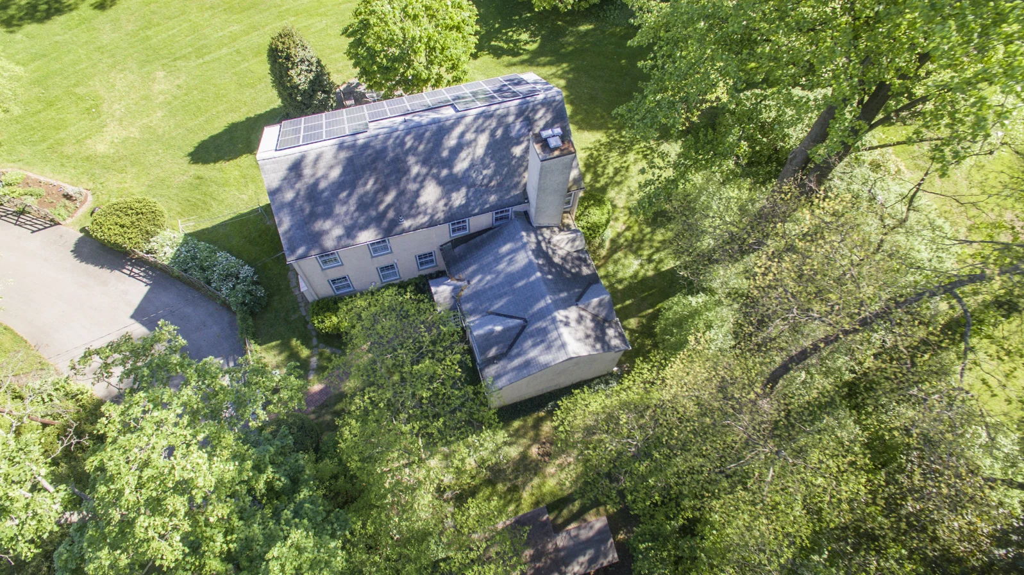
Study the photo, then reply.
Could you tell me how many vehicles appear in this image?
zero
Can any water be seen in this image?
No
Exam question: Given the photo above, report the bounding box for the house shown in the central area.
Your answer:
[256,72,632,407]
